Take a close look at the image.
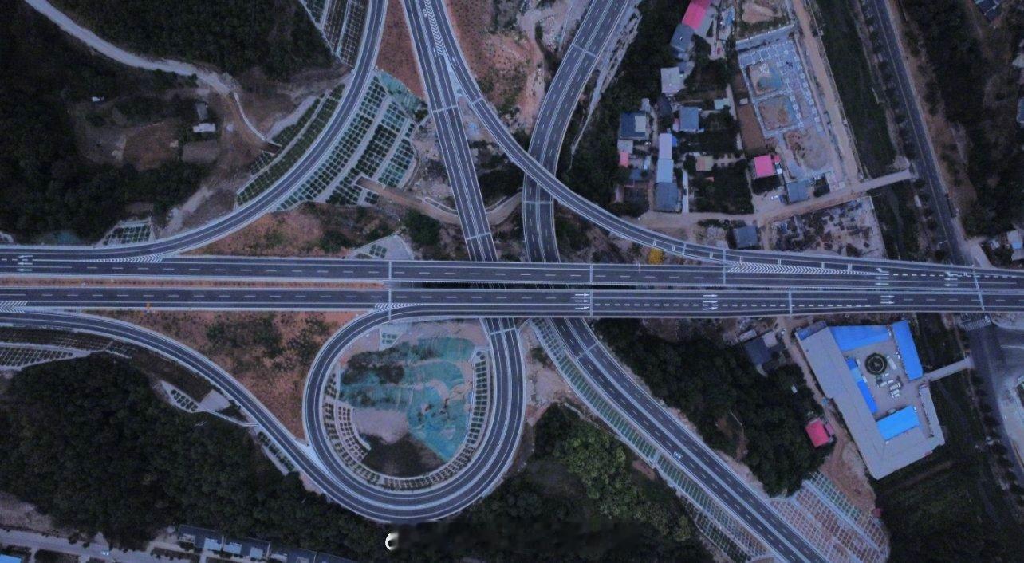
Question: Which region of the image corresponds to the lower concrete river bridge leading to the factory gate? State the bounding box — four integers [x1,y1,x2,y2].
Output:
[919,355,978,381]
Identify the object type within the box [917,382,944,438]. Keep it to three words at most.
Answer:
building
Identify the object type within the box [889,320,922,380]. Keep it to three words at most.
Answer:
shed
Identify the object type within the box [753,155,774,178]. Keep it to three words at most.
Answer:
house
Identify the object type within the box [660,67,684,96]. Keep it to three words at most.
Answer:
house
